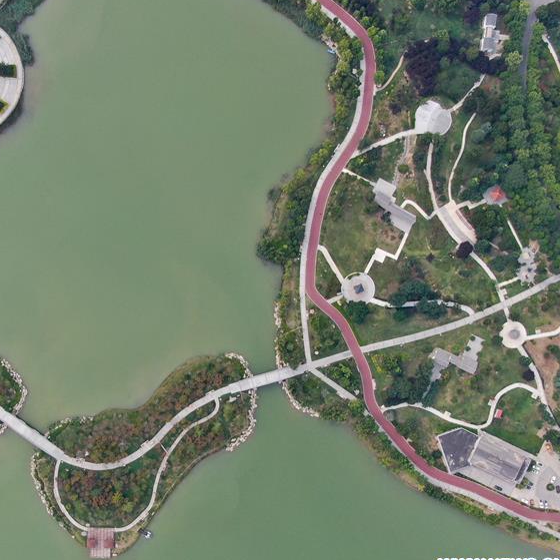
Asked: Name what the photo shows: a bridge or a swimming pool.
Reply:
bridge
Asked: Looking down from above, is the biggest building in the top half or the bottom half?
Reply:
bottom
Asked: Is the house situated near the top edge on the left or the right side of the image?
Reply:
right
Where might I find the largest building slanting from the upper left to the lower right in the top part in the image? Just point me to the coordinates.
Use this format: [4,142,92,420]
[373,177,415,233]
